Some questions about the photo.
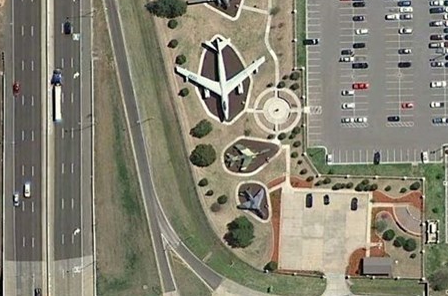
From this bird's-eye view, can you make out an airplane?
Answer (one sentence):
Yes, the frame does contain an airplane.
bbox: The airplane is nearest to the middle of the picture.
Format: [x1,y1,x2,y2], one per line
[226,145,271,170]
